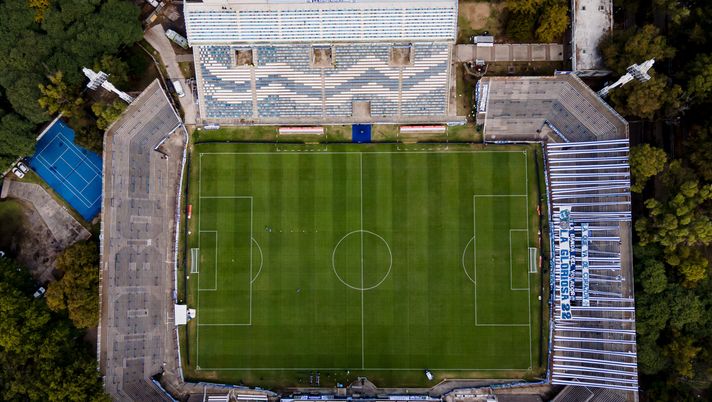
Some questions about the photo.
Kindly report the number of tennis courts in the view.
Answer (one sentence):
I count just 1 tennis court.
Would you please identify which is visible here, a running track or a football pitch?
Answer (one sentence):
Visible in the photo is a football pitch.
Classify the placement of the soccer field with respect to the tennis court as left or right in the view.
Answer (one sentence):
Relative to the tennis court, the soccer field is on the right.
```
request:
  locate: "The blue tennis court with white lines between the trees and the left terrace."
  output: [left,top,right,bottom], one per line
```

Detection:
[22,115,102,225]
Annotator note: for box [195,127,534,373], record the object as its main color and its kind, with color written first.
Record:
green soccer field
